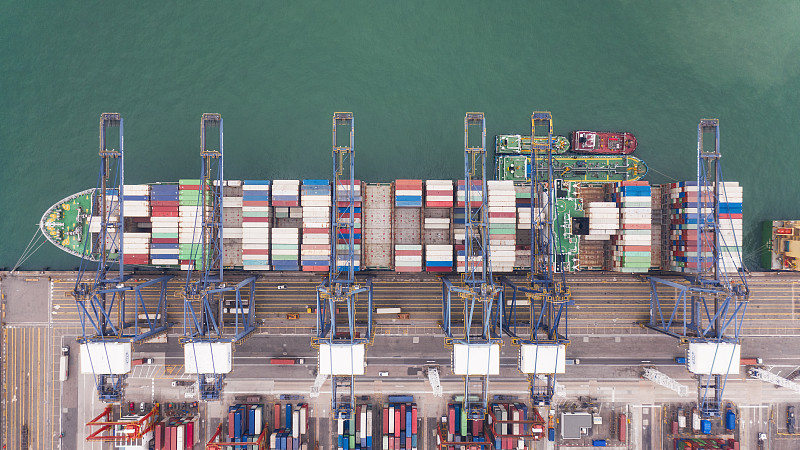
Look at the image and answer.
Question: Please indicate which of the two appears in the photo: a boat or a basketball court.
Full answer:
Looking from above, you can make out a boat.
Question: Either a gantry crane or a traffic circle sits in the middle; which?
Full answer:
You can see a gantry crane in the middle.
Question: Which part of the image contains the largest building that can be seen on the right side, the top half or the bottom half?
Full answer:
The bottom half of the photo is where the largest building that can be seen on the right side is.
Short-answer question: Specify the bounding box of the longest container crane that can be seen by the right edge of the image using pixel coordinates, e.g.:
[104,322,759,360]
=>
[633,120,760,422]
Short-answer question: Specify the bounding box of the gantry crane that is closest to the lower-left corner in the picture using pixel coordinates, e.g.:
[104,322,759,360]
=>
[85,405,159,445]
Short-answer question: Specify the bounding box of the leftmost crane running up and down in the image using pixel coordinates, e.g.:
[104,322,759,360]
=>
[62,113,185,405]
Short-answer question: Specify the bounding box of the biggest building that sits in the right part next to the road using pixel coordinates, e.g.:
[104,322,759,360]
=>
[558,408,592,439]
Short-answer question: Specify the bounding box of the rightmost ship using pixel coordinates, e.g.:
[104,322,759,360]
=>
[762,220,800,270]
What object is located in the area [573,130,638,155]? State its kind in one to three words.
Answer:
boat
